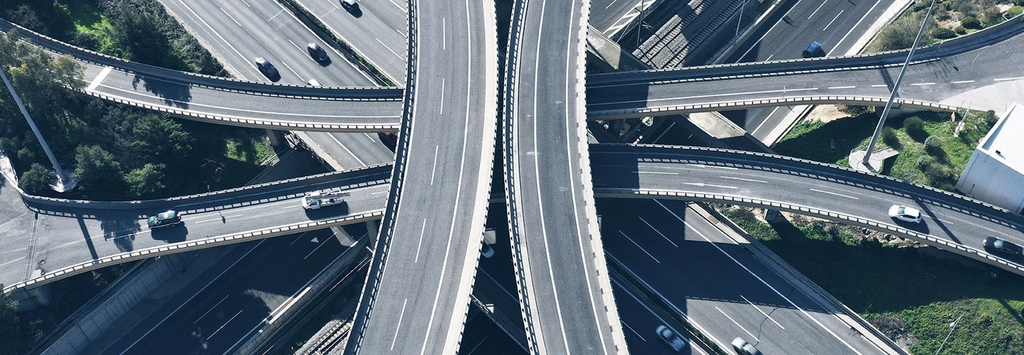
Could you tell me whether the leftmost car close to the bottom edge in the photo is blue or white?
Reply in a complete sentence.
The leftmost car close to the bottom edge looks blue in the image.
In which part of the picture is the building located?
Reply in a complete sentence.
Look in the right portion of the view to spot the building.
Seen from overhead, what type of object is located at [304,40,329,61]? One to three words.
car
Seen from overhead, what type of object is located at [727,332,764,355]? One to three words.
car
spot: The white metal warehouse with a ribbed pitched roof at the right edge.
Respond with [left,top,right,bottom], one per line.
[954,94,1024,218]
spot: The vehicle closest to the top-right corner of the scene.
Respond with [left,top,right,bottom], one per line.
[801,39,822,58]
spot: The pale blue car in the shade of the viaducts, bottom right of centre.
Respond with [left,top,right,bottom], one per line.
[651,320,687,352]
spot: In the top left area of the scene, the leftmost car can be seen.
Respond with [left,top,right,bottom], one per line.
[254,55,279,77]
